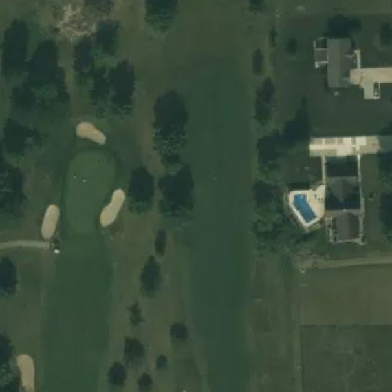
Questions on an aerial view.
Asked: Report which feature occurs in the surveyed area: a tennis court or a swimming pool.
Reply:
swimming pool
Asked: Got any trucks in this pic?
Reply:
No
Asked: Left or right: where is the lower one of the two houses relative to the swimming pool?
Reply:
to the right of it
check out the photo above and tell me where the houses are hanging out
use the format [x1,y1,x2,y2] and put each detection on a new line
[325,175,360,241]
[314,36,354,88]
